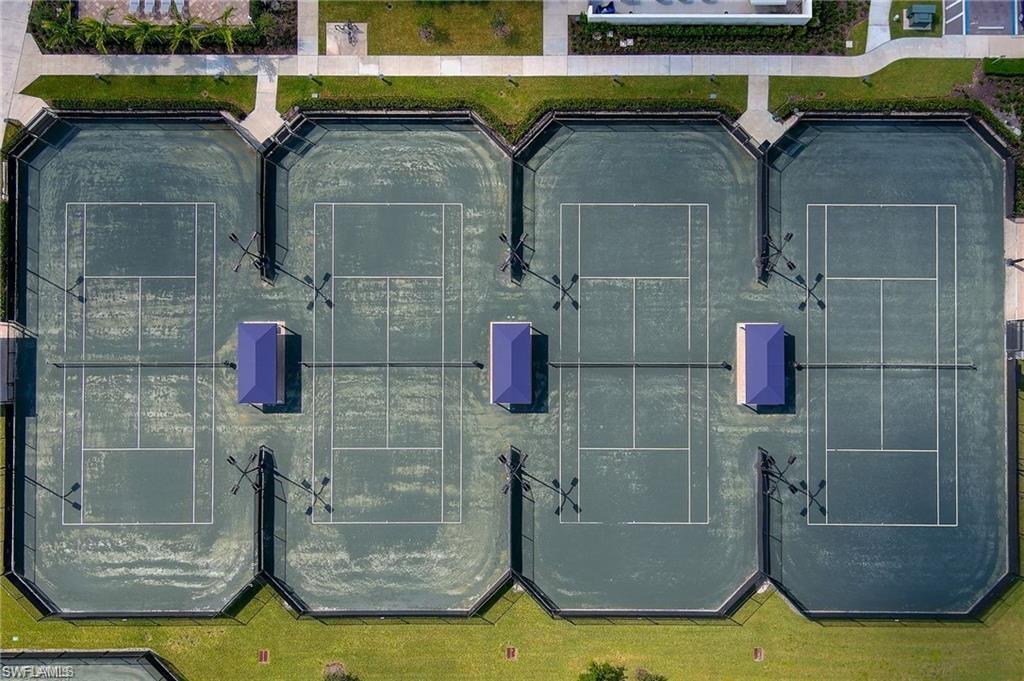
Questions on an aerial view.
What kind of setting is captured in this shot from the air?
sports ground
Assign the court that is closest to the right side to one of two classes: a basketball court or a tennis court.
tennis court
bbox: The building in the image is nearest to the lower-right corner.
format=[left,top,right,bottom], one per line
[737,322,784,404]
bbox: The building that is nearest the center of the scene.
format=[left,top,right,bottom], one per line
[490,322,532,404]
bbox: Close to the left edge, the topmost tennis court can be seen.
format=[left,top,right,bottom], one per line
[13,118,263,612]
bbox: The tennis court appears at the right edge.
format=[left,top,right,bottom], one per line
[757,118,1008,611]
